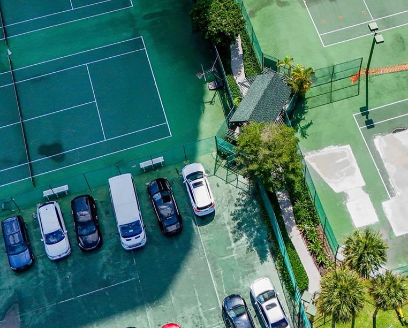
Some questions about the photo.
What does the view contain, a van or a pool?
van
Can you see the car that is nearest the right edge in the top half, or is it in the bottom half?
bottom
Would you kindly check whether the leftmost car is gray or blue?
blue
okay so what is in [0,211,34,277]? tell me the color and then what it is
blue car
